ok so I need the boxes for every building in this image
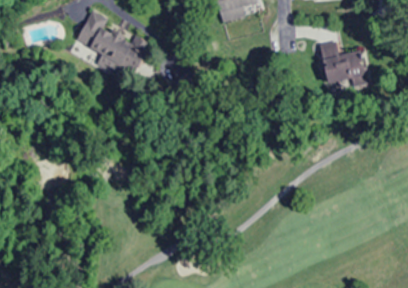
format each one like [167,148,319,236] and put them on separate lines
[219,0,264,22]
[73,7,148,73]
[320,42,370,88]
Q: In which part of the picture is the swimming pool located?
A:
top left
